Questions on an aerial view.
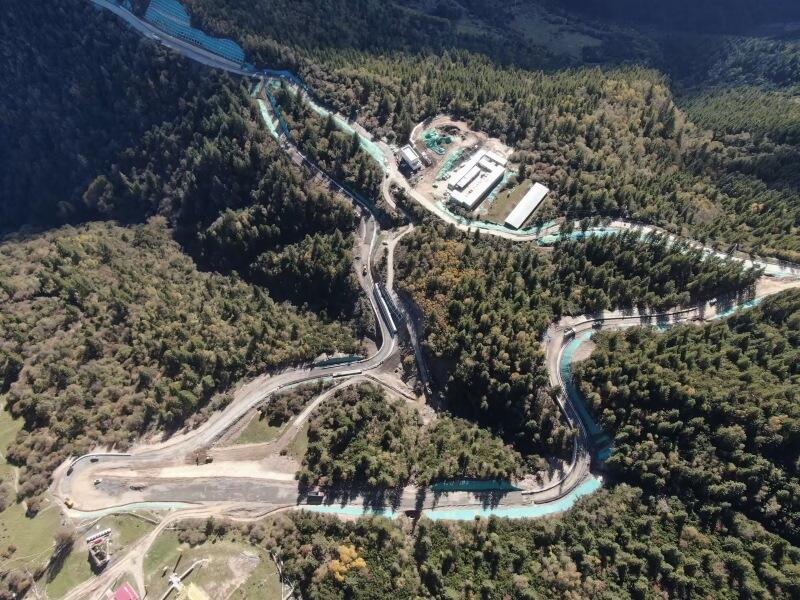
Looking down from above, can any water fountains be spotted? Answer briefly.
No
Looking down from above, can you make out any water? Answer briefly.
No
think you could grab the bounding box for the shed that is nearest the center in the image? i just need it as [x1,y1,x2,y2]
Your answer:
[370,284,398,334]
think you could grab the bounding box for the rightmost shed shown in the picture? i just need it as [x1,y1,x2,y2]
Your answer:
[503,182,548,231]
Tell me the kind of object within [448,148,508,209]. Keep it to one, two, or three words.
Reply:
building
